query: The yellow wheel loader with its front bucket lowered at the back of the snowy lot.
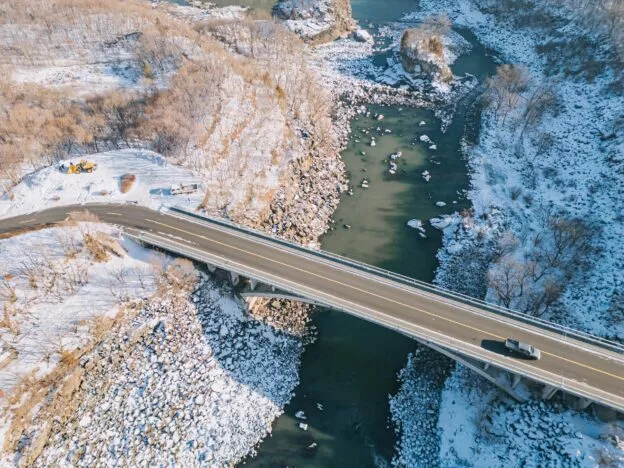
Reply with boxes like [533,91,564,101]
[65,157,101,175]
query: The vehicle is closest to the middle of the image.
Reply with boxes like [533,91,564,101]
[170,180,197,194]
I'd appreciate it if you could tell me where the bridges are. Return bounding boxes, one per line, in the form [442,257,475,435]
[118,199,624,430]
